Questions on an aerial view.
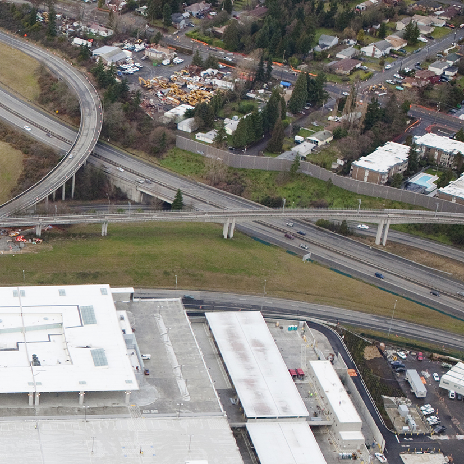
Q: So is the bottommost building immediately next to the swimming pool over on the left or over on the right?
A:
right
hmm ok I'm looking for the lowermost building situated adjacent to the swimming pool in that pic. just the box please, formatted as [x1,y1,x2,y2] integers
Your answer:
[437,178,464,206]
